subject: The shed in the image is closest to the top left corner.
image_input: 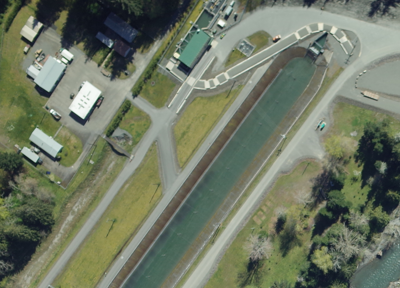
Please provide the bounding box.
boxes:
[20,17,45,41]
